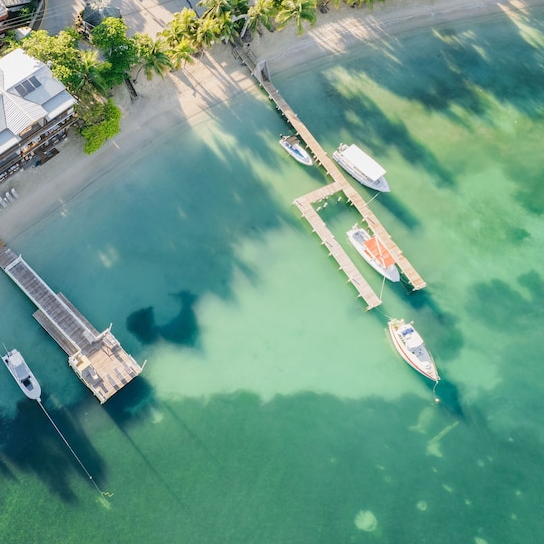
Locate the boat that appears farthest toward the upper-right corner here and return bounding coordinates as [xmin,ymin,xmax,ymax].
[332,147,397,198]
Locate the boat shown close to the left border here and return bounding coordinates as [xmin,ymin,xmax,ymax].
[1,343,44,402]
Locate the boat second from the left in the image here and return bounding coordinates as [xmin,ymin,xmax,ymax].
[278,133,312,166]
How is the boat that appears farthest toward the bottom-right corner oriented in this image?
on a diagonal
